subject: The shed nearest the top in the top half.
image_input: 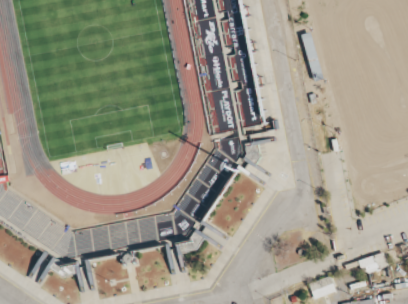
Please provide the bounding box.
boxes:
[302,32,323,80]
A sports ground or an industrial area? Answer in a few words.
sports ground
